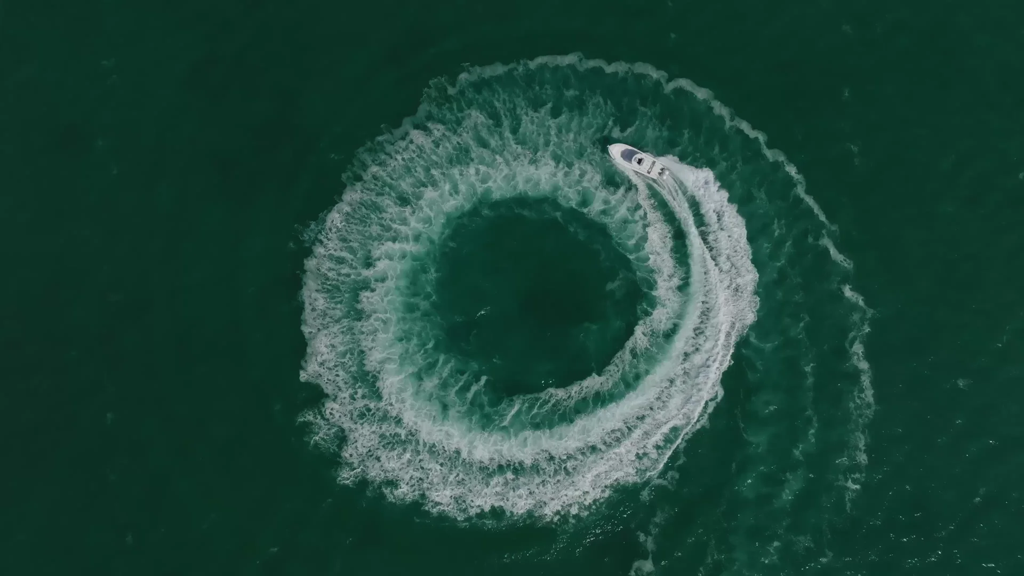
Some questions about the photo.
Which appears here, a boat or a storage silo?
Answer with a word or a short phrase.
boat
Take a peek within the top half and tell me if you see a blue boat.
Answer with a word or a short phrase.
No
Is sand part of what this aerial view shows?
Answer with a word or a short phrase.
No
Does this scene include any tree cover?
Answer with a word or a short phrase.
No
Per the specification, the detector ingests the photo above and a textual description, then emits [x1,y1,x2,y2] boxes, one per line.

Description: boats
[606,143,664,181]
